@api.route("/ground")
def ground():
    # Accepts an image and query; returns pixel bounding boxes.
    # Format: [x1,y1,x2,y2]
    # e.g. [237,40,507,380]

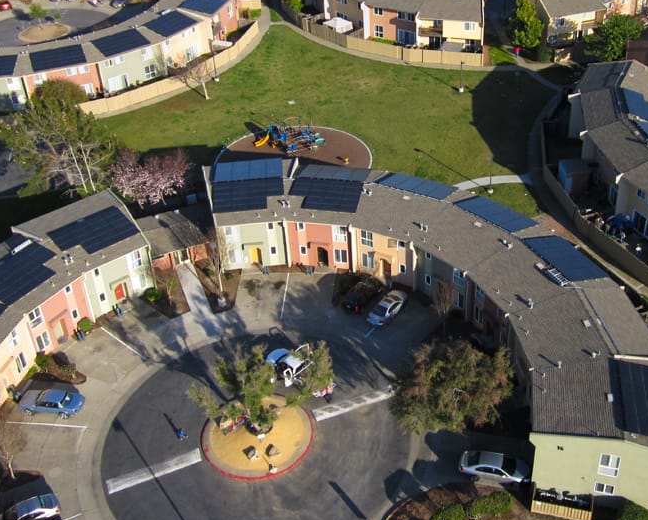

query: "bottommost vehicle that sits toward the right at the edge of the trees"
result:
[459,452,529,489]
